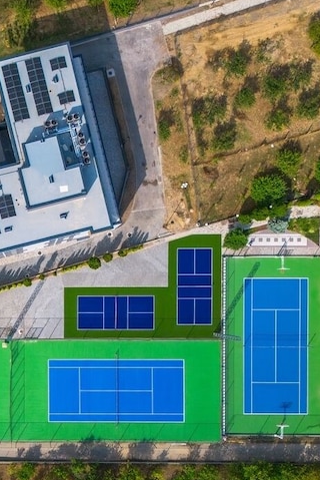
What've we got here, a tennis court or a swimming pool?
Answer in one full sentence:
Looking from above, you can make out a tennis court.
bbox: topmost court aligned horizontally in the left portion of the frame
[65,287,168,338]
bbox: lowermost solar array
[0,194,17,219]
